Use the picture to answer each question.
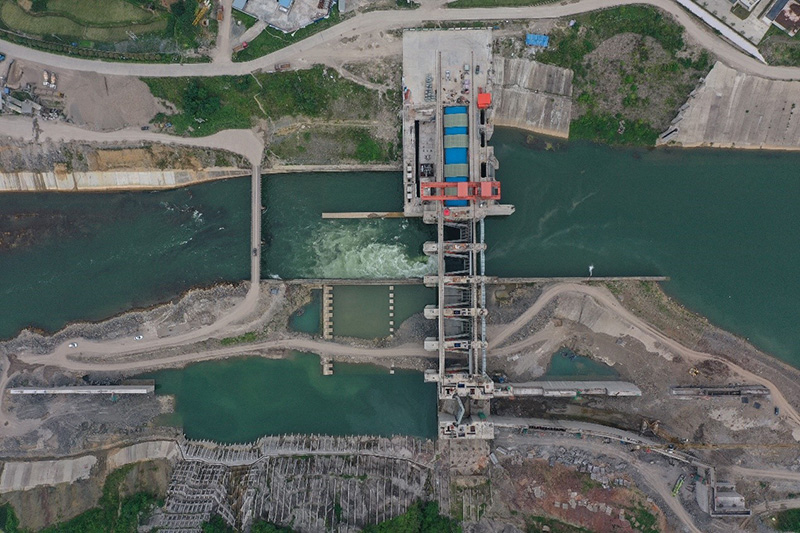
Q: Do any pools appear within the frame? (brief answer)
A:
Yes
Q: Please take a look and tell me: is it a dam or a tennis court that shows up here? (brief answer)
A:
dam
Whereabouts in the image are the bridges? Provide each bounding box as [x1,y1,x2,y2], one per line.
[251,166,267,285]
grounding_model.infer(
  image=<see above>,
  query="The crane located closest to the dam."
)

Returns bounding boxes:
[421,177,501,206]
